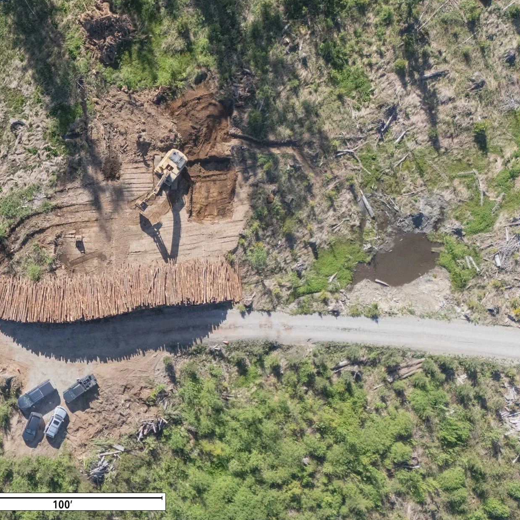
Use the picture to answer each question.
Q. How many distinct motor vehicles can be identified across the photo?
5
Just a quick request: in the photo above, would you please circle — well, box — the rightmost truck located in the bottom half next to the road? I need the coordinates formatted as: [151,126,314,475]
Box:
[62,372,100,403]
